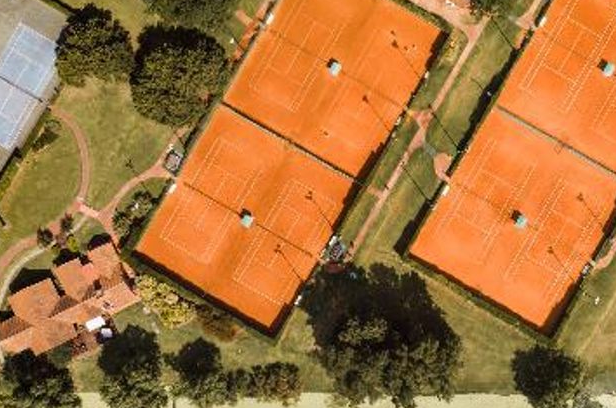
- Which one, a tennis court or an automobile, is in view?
tennis court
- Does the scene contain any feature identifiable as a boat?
No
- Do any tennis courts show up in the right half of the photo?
Yes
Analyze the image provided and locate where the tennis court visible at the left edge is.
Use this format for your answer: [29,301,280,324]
[0,22,68,150]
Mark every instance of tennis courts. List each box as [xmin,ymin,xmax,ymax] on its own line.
[567,56,616,171]
[410,107,565,298]
[214,0,373,142]
[0,22,68,150]
[203,144,362,337]
[292,0,449,183]
[481,146,616,340]
[127,101,290,296]
[497,0,616,143]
